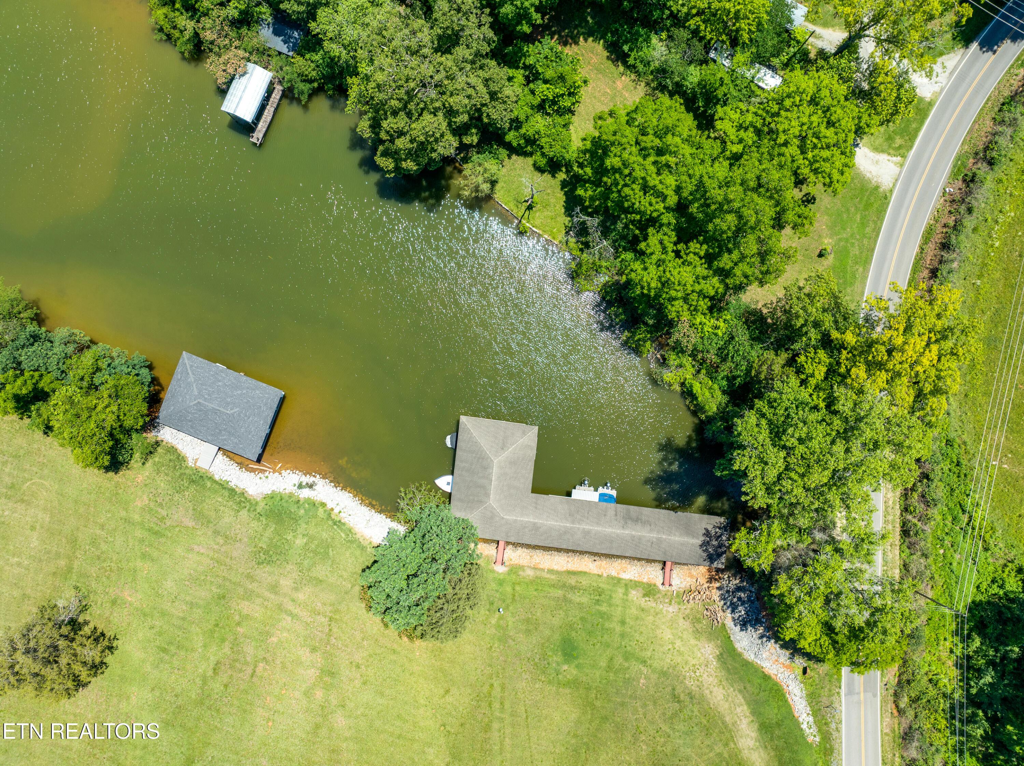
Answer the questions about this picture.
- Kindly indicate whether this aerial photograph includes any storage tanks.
No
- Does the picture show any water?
Yes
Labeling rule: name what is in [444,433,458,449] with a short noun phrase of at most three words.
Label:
boat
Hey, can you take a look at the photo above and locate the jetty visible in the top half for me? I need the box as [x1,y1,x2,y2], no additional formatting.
[249,86,285,146]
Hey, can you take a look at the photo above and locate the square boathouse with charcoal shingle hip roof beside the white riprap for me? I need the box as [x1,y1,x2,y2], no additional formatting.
[158,351,289,462]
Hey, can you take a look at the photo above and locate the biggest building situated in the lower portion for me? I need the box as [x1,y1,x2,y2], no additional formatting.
[450,415,730,568]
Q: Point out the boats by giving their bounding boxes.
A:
[575,478,593,492]
[434,476,454,491]
[444,433,458,449]
[598,483,616,504]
